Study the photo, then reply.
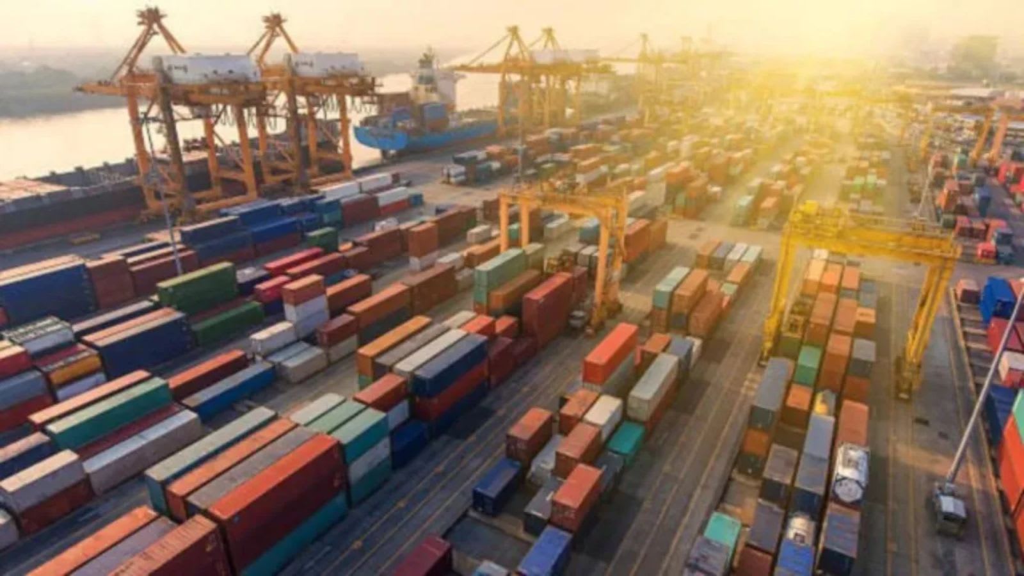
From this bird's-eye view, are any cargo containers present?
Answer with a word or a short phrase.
Yes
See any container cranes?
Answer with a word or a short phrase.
Yes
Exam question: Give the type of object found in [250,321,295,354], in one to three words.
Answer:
shipping container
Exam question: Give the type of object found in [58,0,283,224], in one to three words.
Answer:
container crane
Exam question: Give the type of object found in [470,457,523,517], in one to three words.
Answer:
shipping container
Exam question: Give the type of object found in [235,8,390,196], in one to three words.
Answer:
container crane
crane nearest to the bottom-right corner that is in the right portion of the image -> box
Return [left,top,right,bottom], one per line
[761,202,949,396]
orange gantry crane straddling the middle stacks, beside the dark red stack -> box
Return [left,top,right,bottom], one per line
[498,180,630,332]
